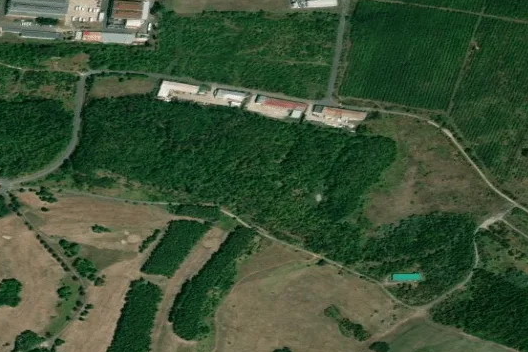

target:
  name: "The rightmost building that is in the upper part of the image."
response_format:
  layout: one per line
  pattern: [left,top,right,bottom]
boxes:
[324,107,366,120]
